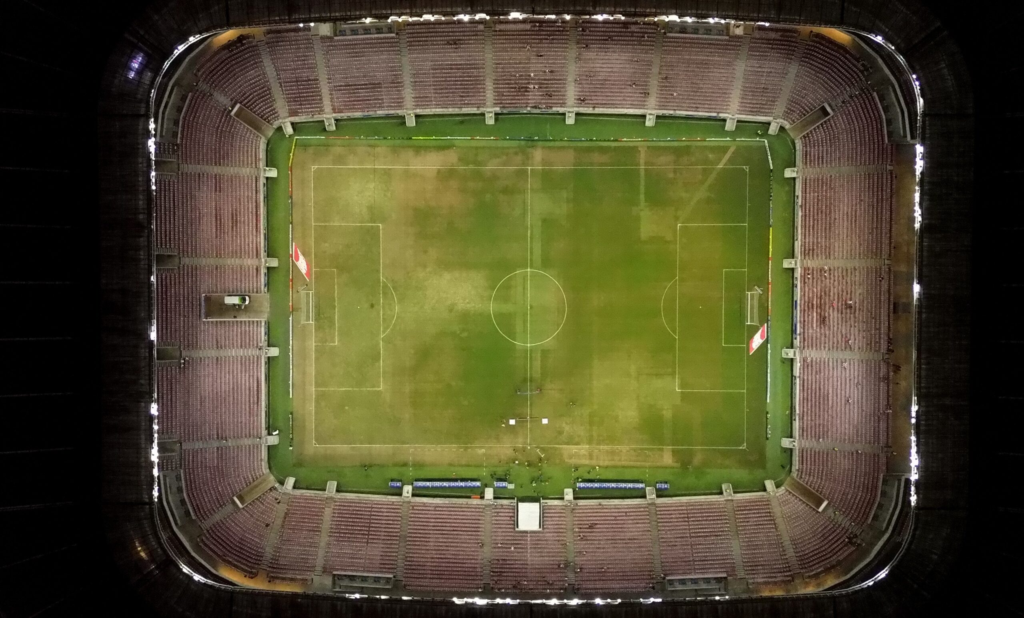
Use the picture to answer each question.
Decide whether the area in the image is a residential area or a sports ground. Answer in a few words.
sports ground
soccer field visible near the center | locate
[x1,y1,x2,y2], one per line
[292,145,769,480]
